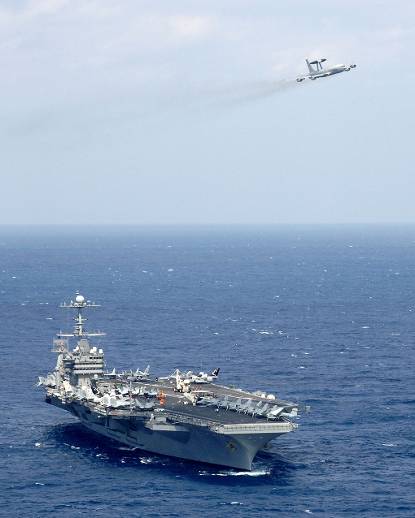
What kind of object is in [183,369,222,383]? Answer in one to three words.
airplane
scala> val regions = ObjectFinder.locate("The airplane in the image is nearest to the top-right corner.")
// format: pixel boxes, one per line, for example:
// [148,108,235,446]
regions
[289,58,355,82]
